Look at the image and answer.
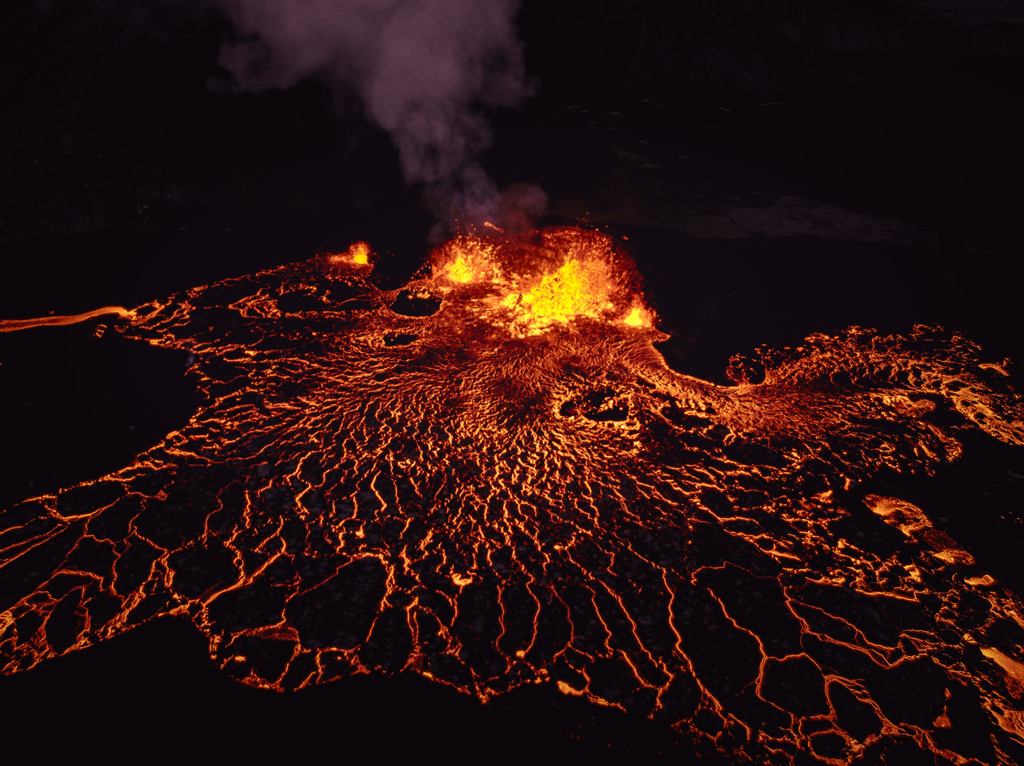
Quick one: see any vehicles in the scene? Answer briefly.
No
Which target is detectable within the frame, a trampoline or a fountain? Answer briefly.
fountain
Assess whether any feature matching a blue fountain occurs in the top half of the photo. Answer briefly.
No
